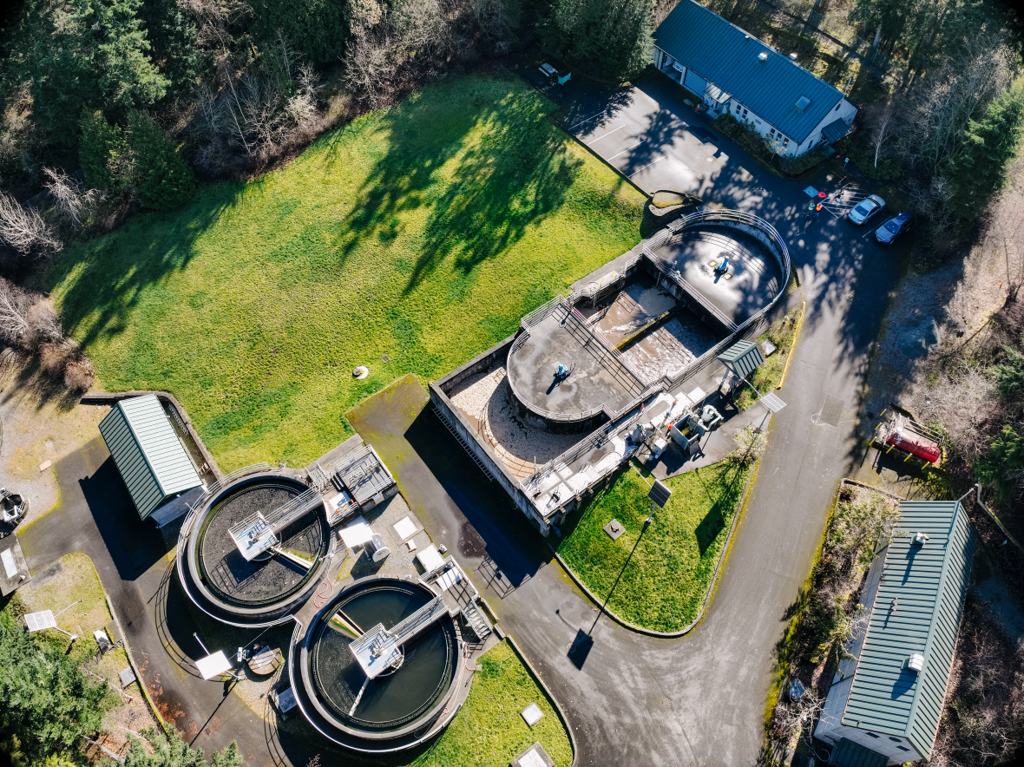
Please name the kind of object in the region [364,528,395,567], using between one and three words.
storage tank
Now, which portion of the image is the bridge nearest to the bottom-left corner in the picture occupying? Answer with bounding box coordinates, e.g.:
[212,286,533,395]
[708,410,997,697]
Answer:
[264,485,331,541]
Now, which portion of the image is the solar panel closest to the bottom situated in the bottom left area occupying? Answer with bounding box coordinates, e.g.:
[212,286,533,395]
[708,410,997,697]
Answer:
[197,650,230,680]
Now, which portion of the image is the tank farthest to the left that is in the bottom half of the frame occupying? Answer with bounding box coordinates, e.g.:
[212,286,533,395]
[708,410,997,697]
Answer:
[0,480,31,529]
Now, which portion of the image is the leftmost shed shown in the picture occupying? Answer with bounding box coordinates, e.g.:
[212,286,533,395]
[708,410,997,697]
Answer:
[98,395,213,533]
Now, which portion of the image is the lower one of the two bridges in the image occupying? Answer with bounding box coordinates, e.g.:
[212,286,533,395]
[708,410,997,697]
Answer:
[388,592,454,653]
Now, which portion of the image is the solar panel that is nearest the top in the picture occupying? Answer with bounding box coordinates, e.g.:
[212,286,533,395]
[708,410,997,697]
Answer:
[762,393,785,411]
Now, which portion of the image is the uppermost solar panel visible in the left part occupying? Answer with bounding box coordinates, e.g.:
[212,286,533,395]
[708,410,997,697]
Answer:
[338,518,373,546]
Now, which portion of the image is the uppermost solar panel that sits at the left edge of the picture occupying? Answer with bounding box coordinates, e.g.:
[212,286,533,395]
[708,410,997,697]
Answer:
[26,609,55,633]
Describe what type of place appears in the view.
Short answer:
industrial area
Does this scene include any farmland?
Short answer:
No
